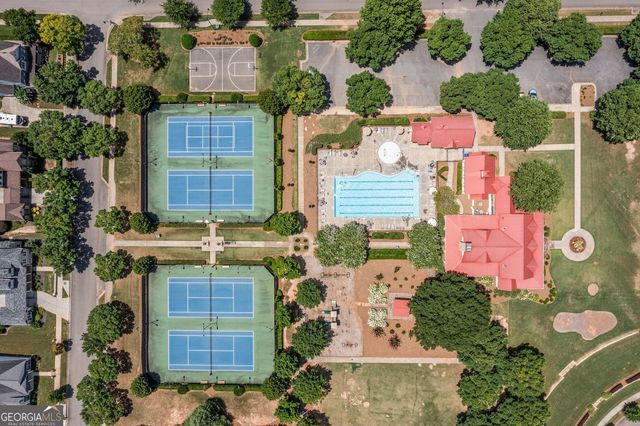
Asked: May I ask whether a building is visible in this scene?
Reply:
Yes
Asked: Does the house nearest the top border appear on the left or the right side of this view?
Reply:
left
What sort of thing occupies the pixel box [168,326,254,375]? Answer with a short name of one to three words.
tennis court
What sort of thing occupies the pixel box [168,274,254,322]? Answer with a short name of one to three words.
tennis court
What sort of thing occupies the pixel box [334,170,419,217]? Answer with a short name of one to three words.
swimming pool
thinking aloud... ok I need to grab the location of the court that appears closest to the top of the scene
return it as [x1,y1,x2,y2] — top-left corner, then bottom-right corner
[189,47,256,92]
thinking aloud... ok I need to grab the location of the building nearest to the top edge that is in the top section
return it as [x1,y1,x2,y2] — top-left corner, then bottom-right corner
[0,41,33,97]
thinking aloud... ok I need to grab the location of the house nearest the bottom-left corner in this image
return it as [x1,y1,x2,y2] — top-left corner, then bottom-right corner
[0,355,36,409]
